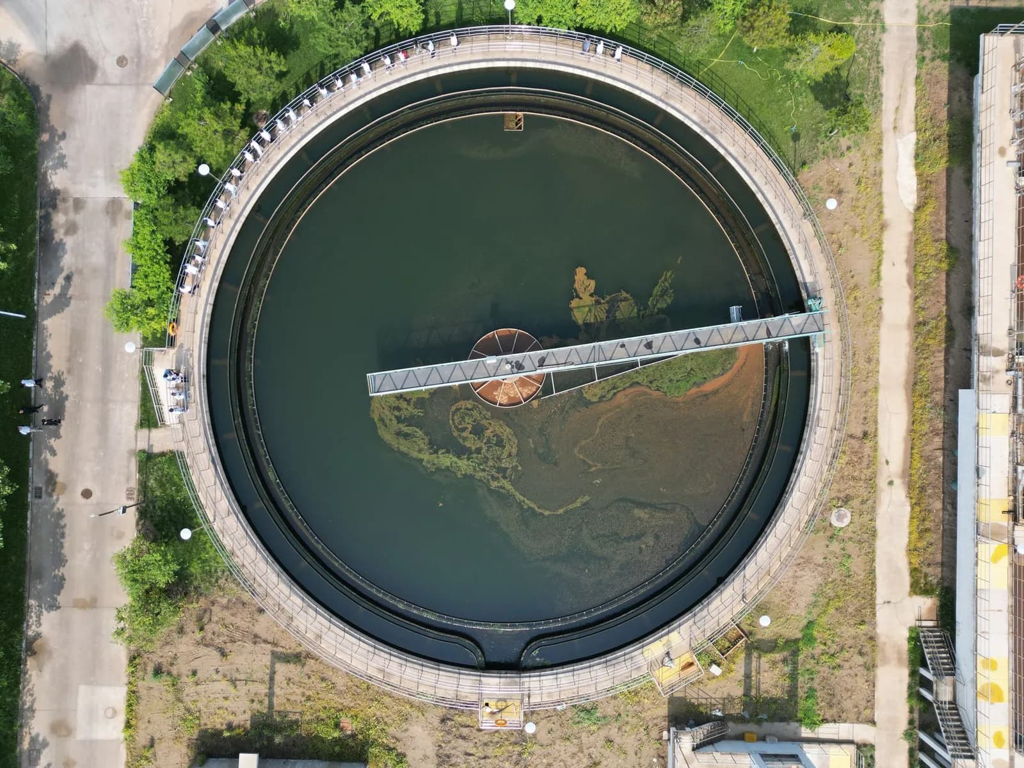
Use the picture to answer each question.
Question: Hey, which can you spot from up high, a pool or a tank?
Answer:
tank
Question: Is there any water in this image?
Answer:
Yes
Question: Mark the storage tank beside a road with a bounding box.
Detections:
[152,33,841,719]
